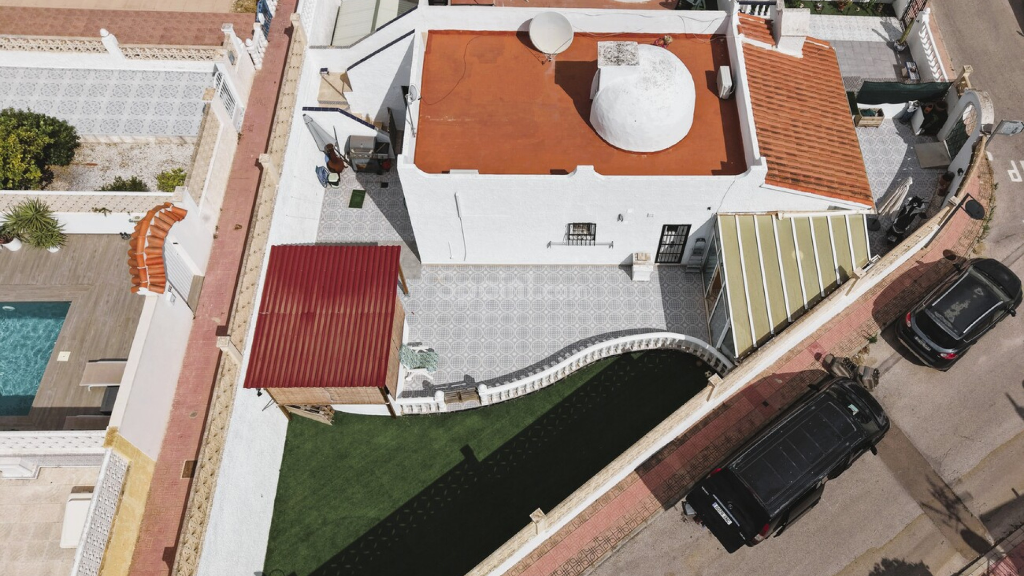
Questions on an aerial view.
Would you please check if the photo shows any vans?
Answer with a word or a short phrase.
Yes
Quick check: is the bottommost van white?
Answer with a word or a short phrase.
No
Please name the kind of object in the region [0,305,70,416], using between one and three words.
swimming pool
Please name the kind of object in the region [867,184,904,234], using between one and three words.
umbrella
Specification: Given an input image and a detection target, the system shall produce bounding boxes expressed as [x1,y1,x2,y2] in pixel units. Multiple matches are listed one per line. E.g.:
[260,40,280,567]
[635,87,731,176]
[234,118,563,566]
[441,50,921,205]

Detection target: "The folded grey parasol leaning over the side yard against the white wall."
[305,115,357,176]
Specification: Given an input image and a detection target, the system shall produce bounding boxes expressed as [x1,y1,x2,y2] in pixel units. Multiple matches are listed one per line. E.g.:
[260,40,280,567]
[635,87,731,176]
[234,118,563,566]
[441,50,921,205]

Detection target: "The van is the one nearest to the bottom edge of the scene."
[686,386,893,545]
